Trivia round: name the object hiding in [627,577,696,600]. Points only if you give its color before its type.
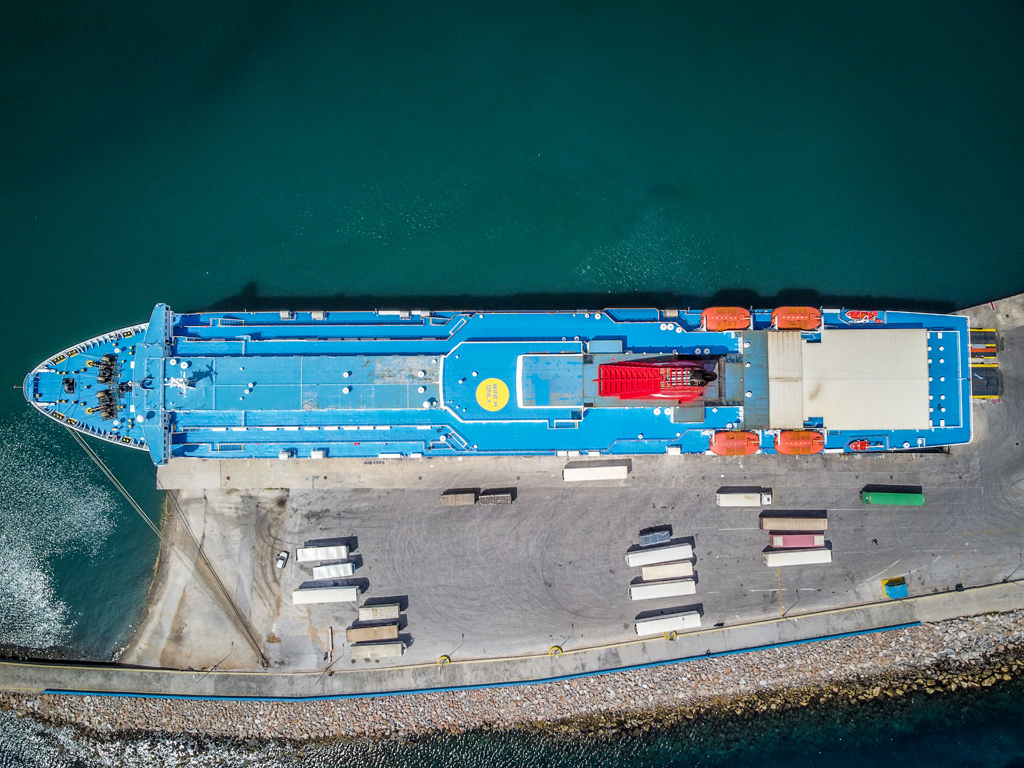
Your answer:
white trailer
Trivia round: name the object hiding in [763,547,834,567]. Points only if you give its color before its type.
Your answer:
white trailer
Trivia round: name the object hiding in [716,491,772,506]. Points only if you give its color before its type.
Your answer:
white vehicle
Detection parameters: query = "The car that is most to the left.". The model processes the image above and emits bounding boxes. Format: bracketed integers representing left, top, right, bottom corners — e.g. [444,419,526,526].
[276,551,288,569]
